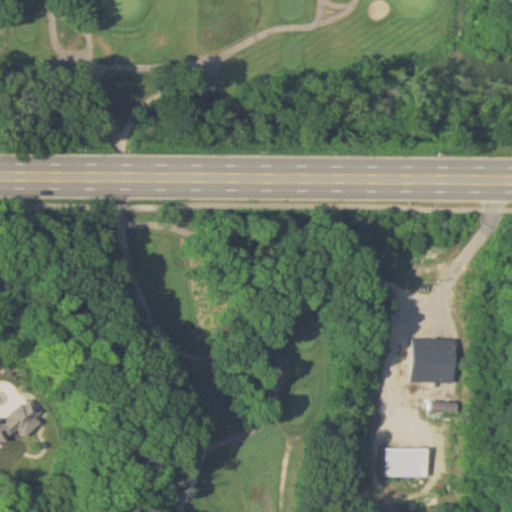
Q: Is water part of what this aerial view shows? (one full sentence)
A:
No, the picture contains no water.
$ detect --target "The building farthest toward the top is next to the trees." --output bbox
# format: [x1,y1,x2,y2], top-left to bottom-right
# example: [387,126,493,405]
[409,339,458,384]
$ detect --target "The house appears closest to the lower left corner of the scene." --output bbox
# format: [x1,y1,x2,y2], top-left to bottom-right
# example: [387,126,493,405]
[0,402,42,450]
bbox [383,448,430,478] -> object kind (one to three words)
shed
